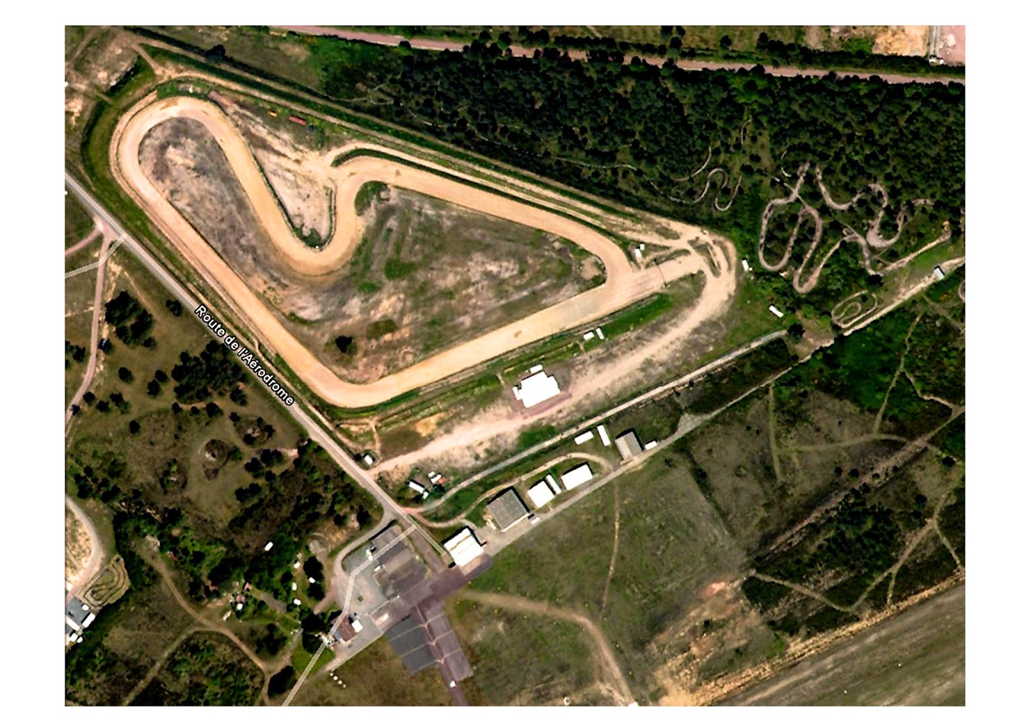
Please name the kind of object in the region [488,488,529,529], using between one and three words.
hangar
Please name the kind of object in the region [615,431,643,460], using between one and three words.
building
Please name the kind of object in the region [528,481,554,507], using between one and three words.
hangar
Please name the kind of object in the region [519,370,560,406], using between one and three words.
building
